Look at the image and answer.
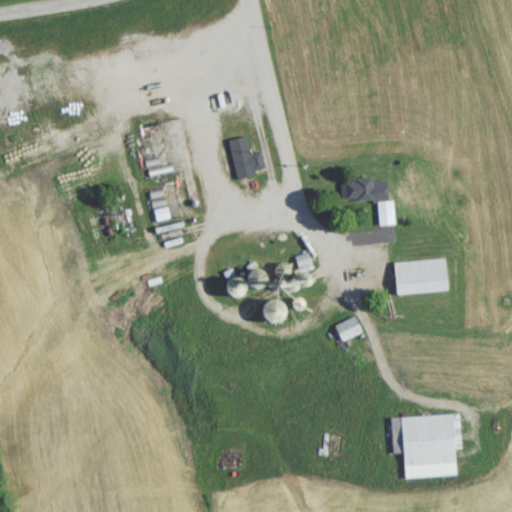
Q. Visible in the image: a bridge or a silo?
silo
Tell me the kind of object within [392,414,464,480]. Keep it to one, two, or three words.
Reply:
barn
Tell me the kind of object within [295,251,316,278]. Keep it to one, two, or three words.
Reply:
shed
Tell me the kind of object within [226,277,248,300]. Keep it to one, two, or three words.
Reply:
silo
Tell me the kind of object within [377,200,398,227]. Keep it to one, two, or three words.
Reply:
building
